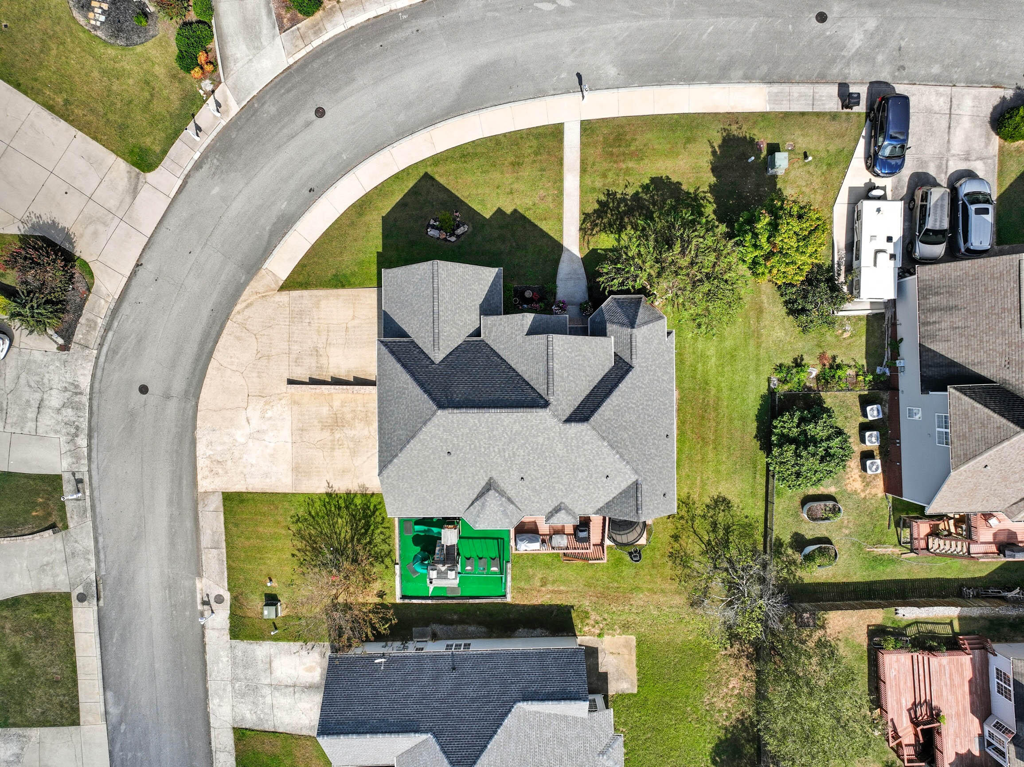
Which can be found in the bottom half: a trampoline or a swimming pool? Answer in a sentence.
You can see a trampoline in the bottom half.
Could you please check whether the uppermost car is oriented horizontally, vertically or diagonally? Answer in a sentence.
The uppermost car is oriented vertically.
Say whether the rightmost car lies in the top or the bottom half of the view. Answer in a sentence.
You can find the rightmost car in the top half.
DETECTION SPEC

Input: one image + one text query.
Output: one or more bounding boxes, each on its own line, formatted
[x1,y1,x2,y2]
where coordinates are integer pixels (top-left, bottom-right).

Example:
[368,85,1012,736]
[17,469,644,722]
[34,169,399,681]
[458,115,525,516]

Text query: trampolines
[608,518,653,564]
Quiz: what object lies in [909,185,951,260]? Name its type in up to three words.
car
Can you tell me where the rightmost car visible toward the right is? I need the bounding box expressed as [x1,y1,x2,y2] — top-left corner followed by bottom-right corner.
[952,180,993,254]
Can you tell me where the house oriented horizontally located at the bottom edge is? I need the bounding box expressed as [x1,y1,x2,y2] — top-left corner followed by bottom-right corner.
[313,638,625,767]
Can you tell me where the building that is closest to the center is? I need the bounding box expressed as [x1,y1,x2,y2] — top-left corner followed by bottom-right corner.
[375,258,676,531]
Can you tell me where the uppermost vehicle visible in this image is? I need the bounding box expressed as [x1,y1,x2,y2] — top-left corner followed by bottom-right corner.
[872,93,914,175]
